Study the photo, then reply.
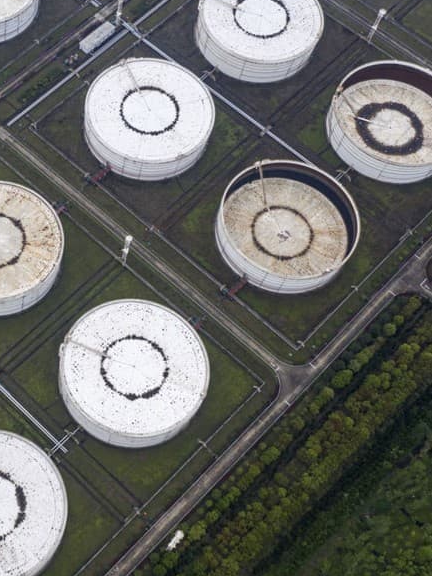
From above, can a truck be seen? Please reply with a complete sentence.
No, I can't see a single truck in this photo.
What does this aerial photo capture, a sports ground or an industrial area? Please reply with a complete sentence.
It's an industrial area.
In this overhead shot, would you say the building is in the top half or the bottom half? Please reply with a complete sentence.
It is in the top half that the building appears.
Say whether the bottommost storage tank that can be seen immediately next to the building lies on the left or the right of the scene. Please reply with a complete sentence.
It is on the left.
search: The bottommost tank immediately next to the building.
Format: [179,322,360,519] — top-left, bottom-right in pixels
[80,56,216,182]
